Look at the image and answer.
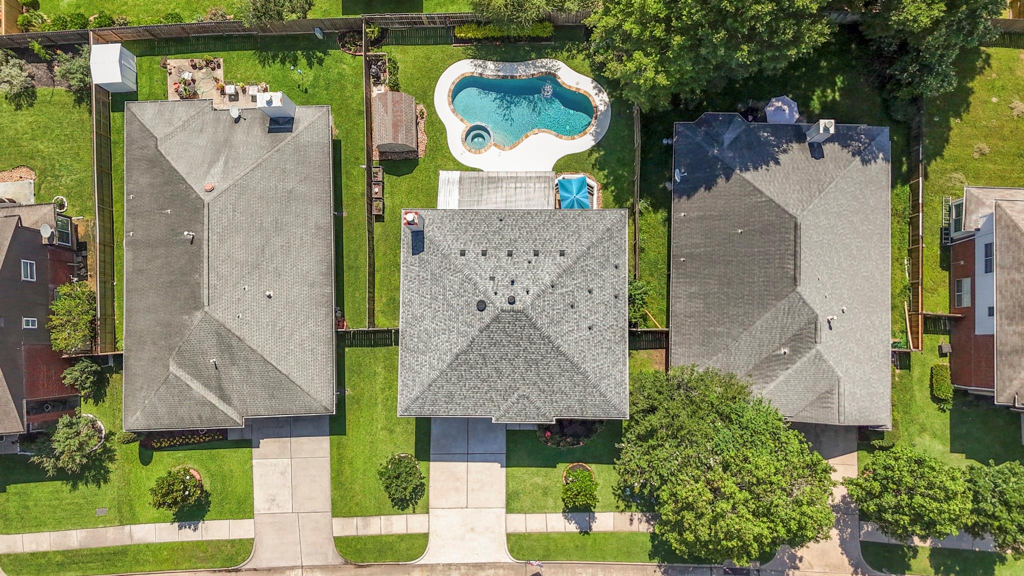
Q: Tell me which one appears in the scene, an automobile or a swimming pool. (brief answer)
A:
swimming pool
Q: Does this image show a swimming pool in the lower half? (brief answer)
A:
No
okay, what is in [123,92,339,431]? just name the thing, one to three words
house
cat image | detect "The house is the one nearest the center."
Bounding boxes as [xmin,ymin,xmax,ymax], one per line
[397,208,630,423]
